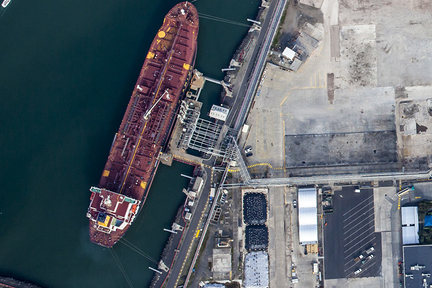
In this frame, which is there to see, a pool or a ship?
ship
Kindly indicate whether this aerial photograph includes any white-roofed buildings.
Yes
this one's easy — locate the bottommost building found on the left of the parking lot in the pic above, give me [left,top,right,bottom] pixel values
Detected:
[213,249,231,280]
